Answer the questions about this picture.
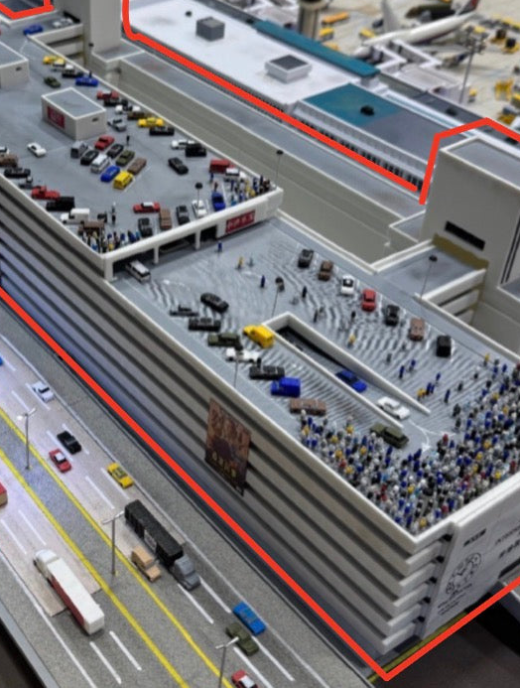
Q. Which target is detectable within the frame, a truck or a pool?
truck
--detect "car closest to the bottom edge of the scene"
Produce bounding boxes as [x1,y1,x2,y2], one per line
[227,664,258,688]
